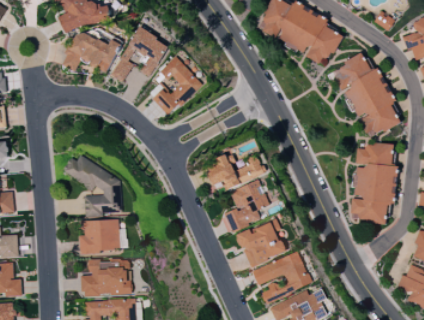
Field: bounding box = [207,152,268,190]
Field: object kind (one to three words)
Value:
house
